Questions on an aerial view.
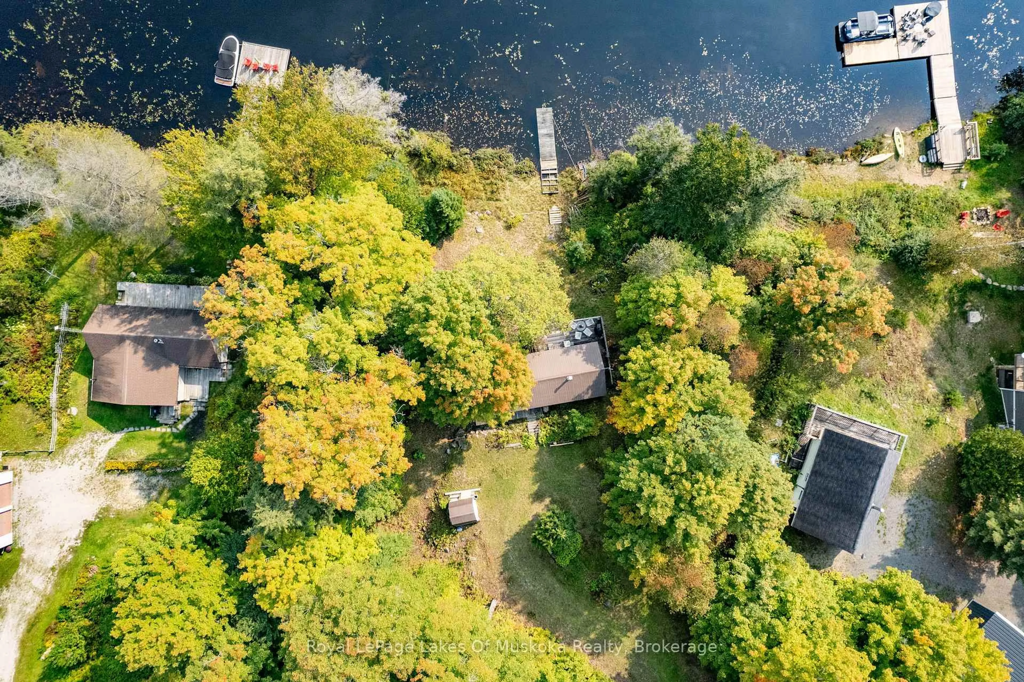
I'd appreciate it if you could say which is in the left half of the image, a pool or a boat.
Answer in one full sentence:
The one visible in the left half of the image is a boat.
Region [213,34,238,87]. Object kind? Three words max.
boat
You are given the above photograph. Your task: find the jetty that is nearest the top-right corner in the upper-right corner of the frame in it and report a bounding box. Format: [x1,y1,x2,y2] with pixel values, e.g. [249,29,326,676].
[840,0,962,127]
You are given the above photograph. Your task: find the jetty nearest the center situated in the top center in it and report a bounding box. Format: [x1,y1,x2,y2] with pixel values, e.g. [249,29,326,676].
[536,107,558,186]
